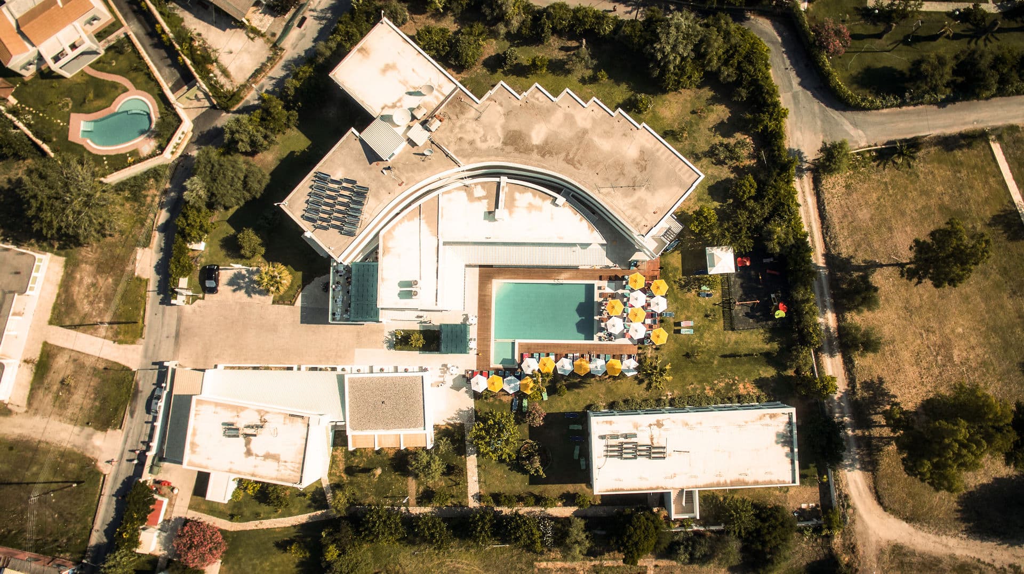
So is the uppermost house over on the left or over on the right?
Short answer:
left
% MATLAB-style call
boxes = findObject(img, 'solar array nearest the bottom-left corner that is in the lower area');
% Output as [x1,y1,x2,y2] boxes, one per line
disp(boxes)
[223,420,264,436]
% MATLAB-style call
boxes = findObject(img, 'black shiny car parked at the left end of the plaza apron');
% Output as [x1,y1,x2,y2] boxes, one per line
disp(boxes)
[204,264,221,294]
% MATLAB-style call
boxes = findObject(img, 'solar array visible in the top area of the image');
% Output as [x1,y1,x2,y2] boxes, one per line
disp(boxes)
[304,172,369,237]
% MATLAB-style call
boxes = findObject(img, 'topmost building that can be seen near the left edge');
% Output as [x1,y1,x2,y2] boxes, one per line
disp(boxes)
[0,0,127,86]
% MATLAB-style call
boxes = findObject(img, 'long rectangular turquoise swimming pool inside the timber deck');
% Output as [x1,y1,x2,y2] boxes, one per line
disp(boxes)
[490,278,638,368]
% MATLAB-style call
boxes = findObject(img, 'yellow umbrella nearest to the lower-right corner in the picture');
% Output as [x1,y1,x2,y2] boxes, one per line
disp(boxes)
[650,328,668,343]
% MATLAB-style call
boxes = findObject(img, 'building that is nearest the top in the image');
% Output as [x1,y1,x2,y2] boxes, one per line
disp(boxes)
[206,0,263,31]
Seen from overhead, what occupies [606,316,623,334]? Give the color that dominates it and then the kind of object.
white umbrella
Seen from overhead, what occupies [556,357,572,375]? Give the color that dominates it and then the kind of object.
white umbrella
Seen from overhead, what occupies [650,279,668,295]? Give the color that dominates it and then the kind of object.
yellow umbrella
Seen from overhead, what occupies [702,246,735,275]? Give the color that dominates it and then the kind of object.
white gazebo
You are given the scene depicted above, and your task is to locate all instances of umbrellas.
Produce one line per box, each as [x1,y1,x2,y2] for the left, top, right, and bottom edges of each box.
[471,374,488,393]
[606,316,623,334]
[519,376,535,394]
[628,272,644,289]
[650,328,668,343]
[628,321,646,340]
[628,290,645,308]
[628,306,646,323]
[589,358,606,375]
[538,357,556,372]
[573,358,589,375]
[487,374,504,392]
[605,299,623,315]
[504,375,520,394]
[650,279,668,295]
[650,295,667,313]
[556,357,572,375]
[605,358,622,374]
[621,358,638,376]
[520,357,538,375]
